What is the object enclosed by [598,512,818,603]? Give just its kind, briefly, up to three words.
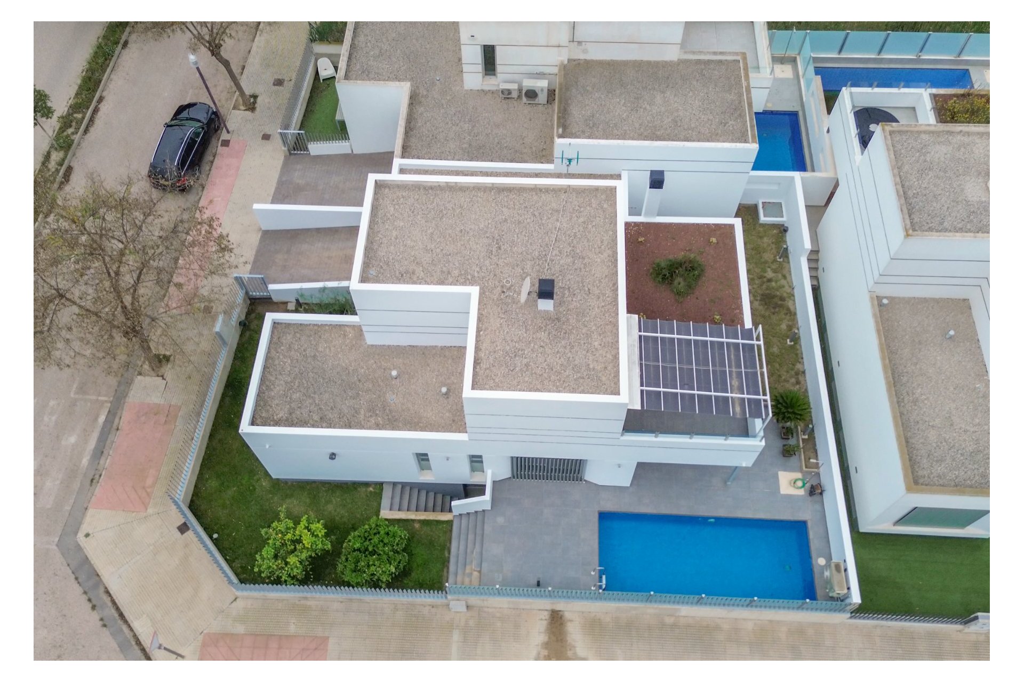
swimming pool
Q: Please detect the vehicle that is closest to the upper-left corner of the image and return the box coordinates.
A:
[149,100,223,193]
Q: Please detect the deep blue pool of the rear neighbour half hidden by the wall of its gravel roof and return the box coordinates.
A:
[751,111,807,172]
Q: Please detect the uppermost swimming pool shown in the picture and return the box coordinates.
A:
[817,66,975,107]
